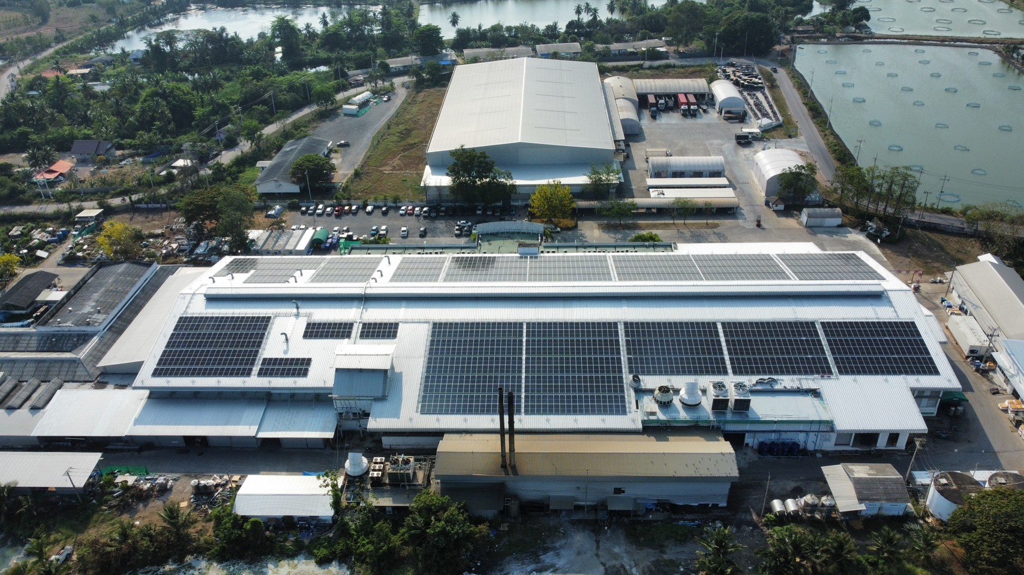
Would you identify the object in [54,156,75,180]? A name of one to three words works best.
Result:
house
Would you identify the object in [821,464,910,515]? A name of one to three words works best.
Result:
shed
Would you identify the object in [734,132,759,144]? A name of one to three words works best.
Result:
vehicle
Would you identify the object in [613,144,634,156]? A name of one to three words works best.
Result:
vehicle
